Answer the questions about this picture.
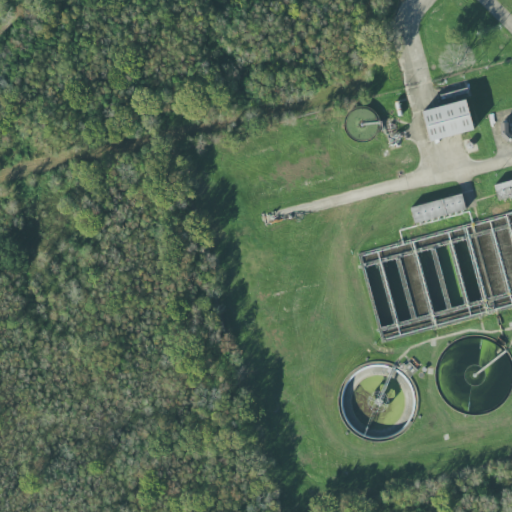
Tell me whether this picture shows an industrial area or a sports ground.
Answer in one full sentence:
This looks like an industrial area.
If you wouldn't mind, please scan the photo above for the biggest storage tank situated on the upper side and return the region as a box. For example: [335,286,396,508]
[346,107,383,141]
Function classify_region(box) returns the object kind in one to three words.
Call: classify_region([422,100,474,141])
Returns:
building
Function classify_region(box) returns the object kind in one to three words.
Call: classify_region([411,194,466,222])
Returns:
building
